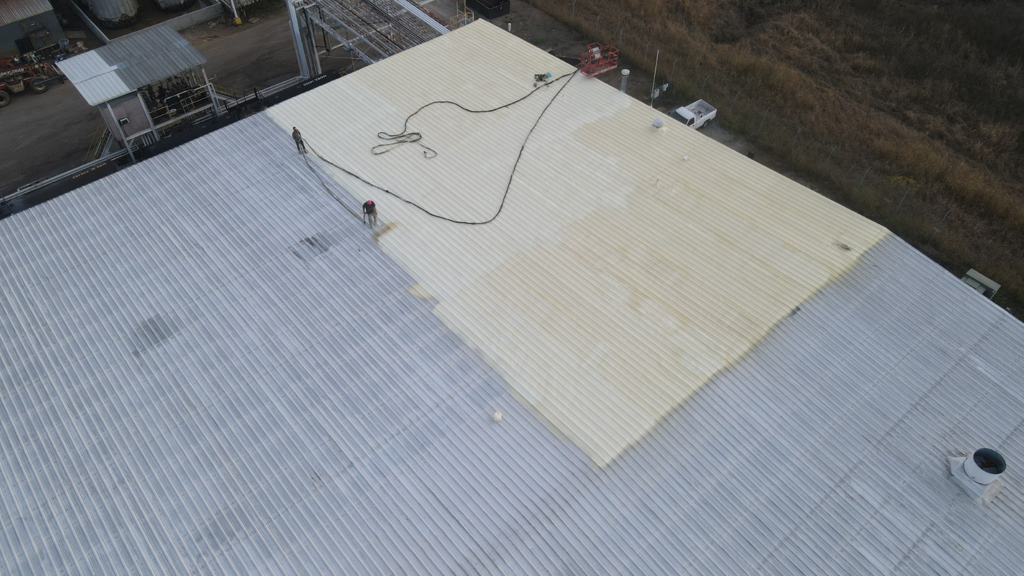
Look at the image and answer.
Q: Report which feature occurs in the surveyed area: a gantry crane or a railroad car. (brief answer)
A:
railroad car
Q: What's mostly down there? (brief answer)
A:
buildings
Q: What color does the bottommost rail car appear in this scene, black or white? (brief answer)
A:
black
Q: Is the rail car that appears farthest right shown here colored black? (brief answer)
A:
Yes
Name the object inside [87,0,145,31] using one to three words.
storage tank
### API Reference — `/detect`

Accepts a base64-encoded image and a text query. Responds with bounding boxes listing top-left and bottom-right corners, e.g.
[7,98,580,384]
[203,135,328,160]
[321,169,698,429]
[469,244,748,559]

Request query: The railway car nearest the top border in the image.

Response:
[146,69,340,157]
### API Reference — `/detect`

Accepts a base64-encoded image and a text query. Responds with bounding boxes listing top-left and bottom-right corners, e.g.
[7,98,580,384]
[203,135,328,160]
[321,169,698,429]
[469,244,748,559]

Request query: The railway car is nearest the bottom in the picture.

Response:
[0,158,128,219]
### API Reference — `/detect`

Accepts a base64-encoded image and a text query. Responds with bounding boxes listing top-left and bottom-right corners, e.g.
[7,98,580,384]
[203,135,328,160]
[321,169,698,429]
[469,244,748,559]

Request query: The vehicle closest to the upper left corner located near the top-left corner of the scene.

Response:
[0,55,65,107]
